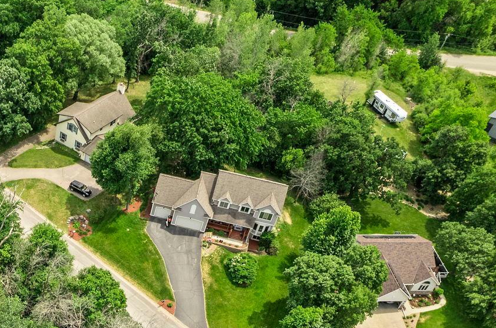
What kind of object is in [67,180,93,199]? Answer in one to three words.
car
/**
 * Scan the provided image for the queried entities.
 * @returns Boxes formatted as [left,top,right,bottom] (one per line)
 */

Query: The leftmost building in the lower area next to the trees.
[152,168,289,253]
